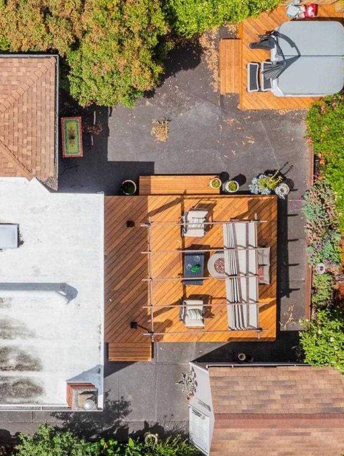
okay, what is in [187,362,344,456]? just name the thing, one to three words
shed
